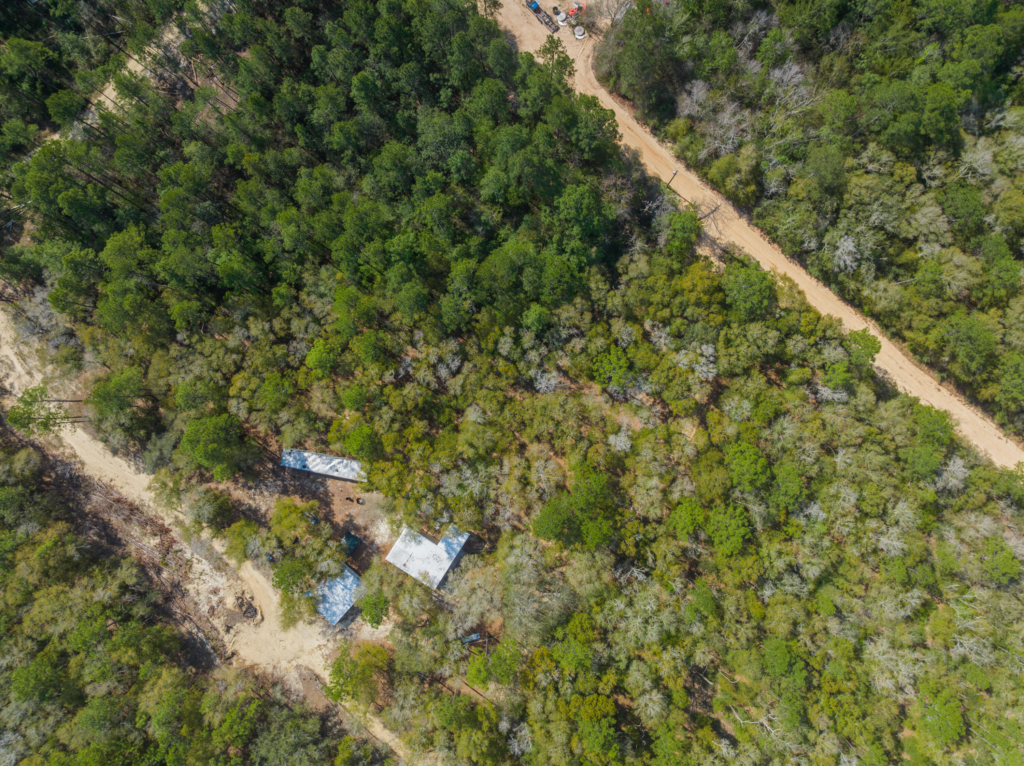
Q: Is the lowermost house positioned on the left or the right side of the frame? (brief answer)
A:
left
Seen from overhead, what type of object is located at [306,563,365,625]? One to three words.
house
